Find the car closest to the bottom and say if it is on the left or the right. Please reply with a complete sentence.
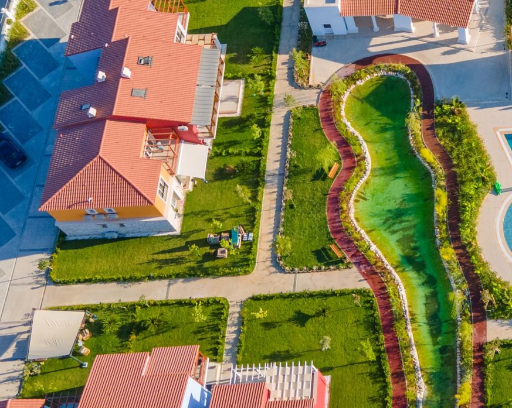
You can find the car closest to the bottom on the left side of the picture.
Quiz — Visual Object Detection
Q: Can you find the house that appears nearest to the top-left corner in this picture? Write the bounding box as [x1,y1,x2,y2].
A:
[33,0,246,243]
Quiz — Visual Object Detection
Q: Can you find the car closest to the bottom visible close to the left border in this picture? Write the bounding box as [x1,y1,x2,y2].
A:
[0,130,32,172]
